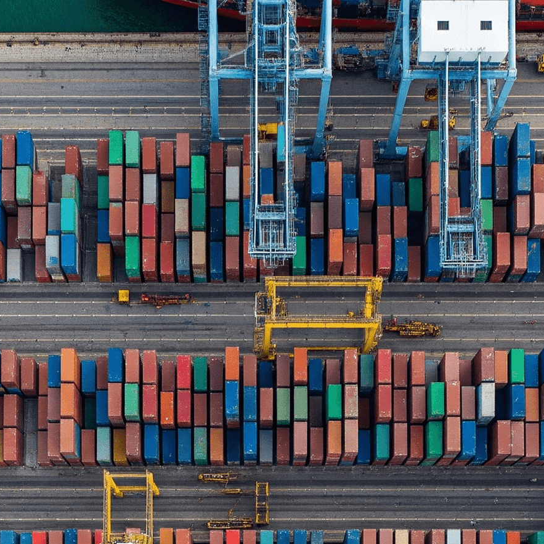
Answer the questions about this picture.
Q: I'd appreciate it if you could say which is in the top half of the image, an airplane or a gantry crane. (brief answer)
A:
gantry crane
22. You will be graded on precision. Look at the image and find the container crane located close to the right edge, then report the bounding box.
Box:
[365,0,521,281]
